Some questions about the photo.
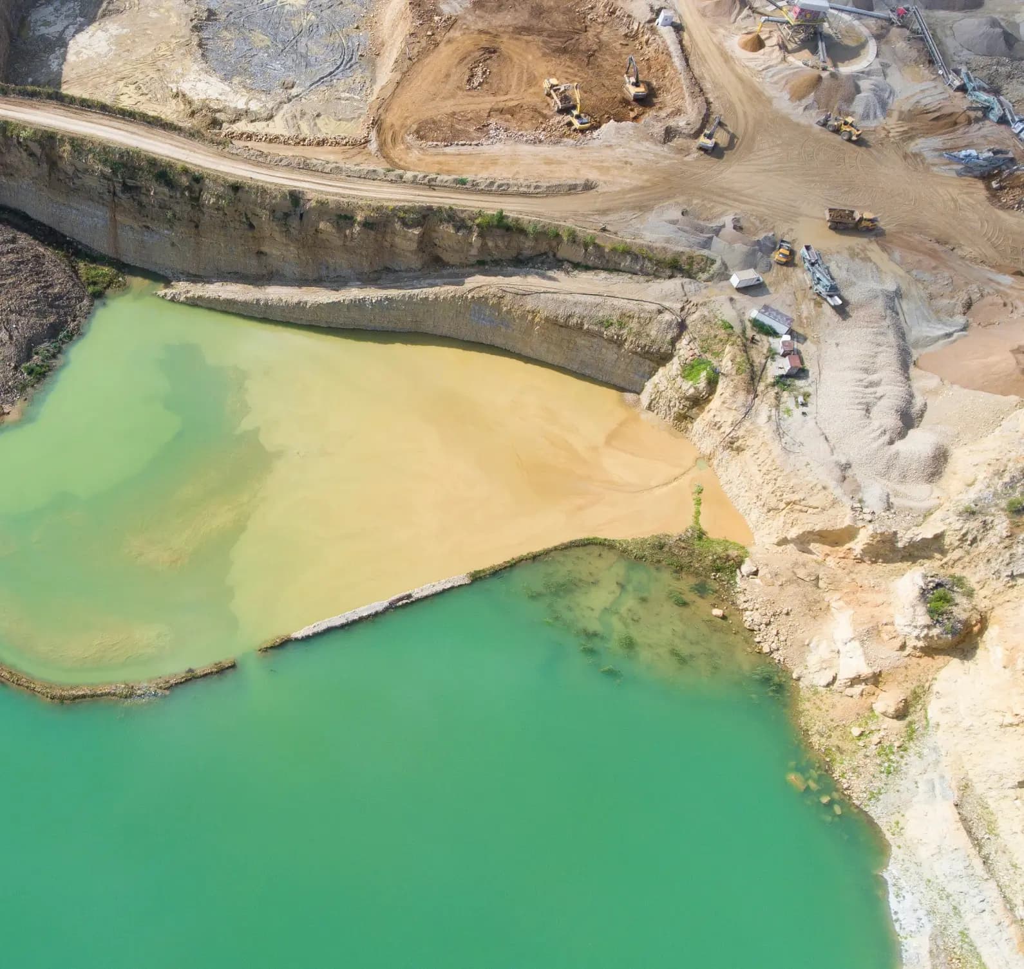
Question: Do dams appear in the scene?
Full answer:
Yes, there's a dam here.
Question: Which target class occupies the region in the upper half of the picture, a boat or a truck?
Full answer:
You can see a truck in the upper half of the picture.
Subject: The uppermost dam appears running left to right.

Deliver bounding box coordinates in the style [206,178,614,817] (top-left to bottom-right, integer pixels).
[257,481,761,652]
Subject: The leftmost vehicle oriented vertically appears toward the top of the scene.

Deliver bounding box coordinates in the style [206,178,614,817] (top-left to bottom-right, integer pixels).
[571,74,597,130]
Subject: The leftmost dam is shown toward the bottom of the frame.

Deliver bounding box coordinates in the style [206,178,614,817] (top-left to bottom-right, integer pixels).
[0,658,240,702]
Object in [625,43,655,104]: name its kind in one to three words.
work vehicle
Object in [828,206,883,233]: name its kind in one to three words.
truck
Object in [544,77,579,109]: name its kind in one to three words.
truck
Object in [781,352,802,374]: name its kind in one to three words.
shed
